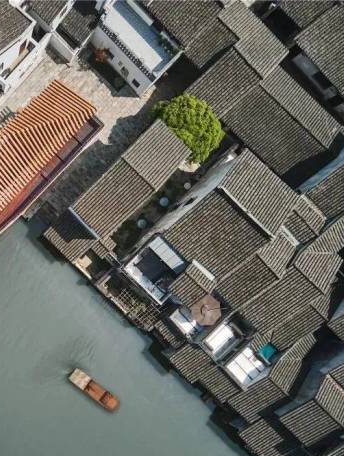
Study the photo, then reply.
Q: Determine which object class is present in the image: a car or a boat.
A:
boat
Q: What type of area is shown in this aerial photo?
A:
residential area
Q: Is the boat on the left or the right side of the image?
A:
left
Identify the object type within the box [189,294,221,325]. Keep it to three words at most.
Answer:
umbrella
